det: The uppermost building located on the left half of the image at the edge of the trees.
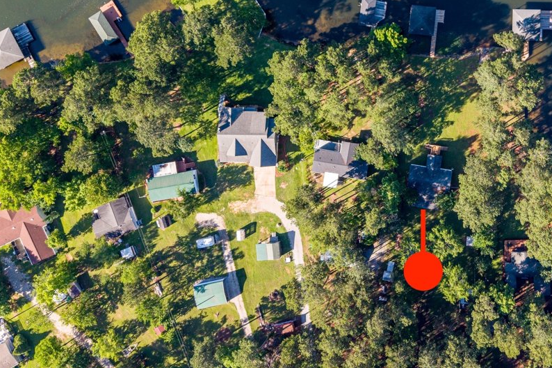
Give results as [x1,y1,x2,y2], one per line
[88,0,128,45]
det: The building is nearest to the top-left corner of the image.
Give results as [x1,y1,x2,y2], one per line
[0,22,36,70]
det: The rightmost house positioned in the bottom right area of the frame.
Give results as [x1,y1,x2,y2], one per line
[504,238,547,297]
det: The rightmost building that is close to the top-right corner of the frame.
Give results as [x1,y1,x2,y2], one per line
[512,9,552,40]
